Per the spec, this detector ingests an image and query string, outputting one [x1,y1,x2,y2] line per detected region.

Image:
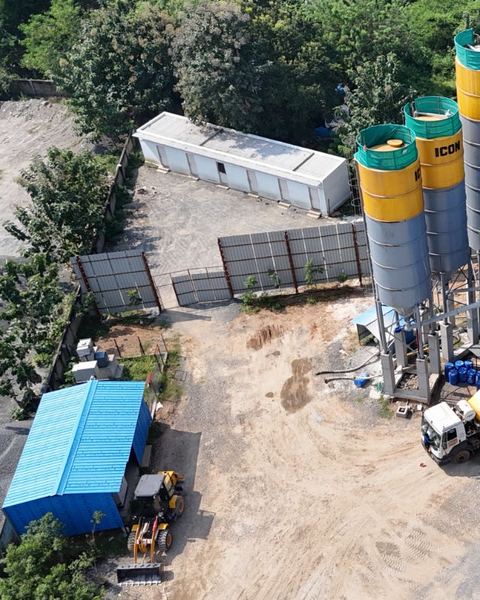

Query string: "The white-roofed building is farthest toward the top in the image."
[133,108,356,216]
